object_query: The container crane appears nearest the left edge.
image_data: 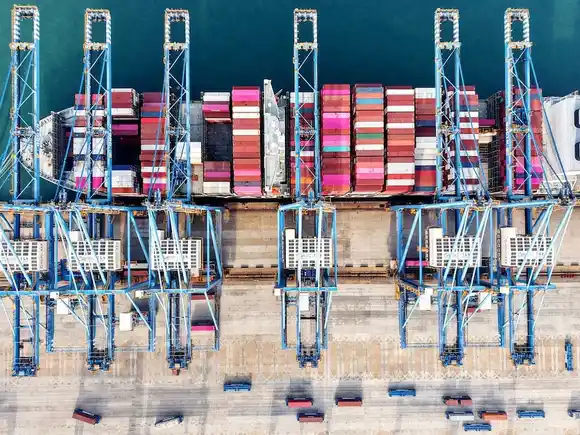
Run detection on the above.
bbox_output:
[0,7,97,371]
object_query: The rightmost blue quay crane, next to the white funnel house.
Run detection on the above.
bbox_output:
[446,7,574,371]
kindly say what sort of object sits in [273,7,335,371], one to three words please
container crane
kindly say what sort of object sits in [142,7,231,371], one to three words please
container crane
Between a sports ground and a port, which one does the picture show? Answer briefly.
port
